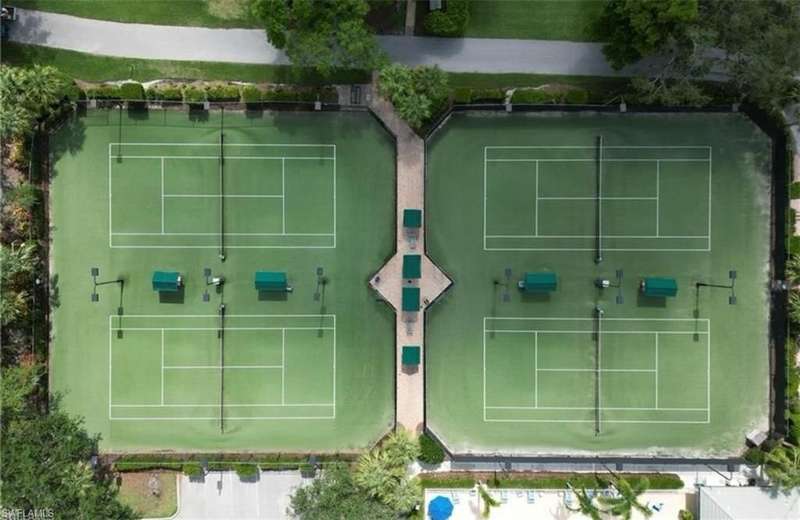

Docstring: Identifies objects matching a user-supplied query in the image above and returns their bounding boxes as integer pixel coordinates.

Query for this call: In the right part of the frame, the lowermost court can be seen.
[427,284,770,457]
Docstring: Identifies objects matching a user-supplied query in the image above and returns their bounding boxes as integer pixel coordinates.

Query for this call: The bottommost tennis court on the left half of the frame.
[49,282,396,454]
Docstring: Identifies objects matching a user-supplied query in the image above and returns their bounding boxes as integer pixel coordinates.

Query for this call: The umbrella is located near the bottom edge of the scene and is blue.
[428,494,453,520]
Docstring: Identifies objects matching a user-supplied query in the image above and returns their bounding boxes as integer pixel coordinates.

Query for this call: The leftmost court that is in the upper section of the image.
[49,108,396,282]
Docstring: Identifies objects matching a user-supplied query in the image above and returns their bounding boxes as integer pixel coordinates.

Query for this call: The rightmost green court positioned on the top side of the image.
[427,112,770,284]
